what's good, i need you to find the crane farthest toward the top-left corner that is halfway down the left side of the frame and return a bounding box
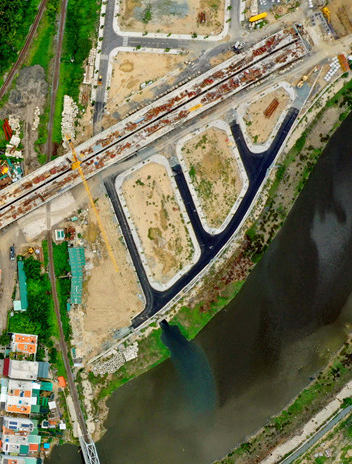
[61,132,119,272]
